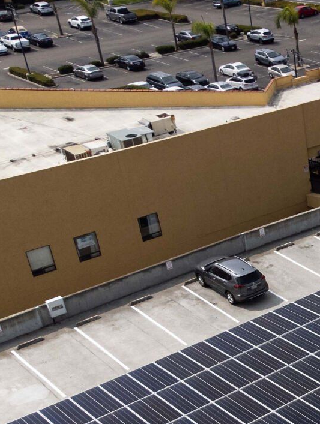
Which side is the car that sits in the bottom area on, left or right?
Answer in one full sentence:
You can find the car that sits in the bottom area on the right side of the picture.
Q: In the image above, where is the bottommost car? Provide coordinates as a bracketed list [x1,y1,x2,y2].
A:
[193,255,268,305]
